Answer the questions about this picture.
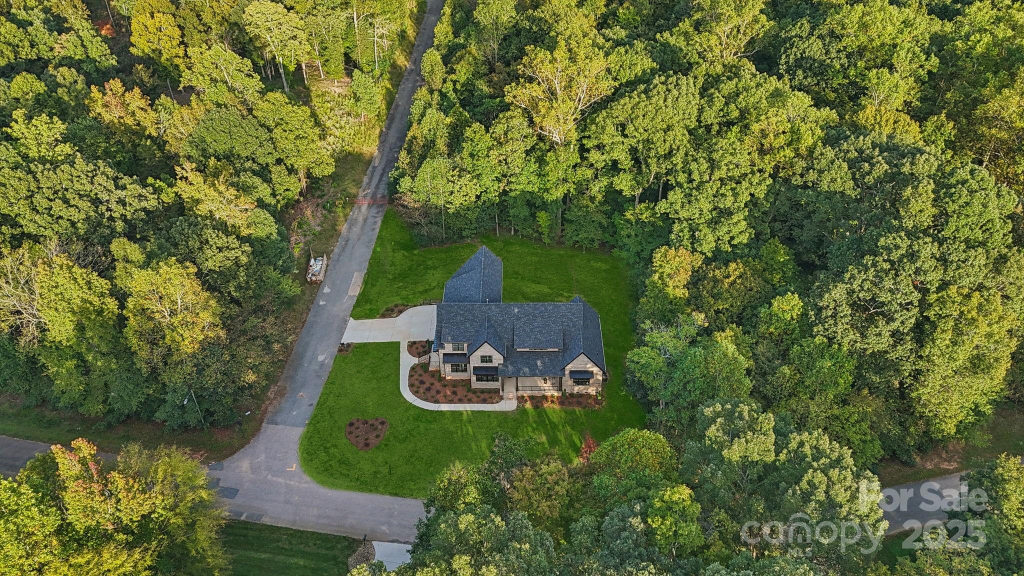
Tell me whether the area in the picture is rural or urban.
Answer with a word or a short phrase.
rural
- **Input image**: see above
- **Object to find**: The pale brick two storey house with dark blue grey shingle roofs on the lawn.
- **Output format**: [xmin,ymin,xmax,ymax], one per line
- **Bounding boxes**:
[418,246,607,402]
